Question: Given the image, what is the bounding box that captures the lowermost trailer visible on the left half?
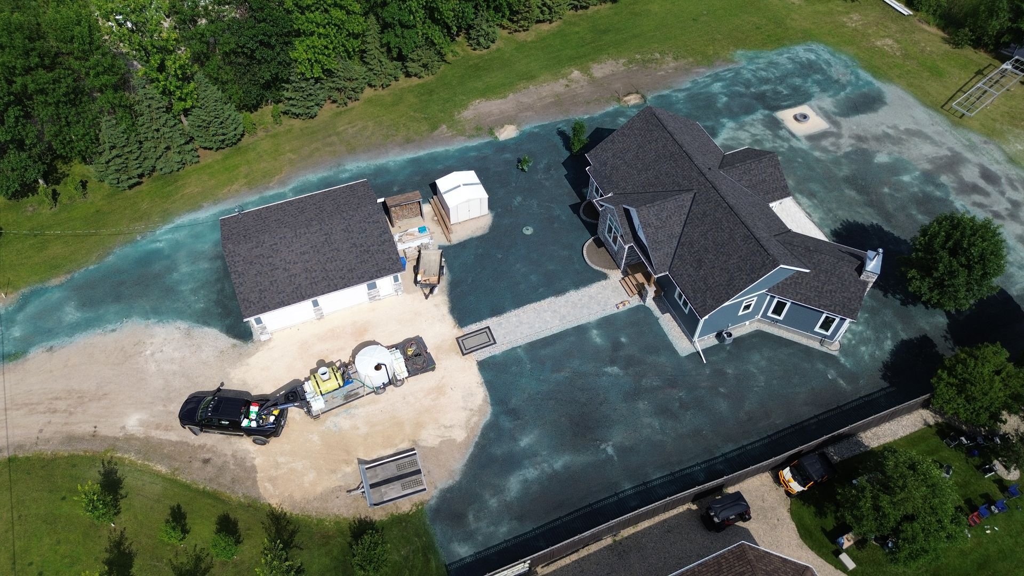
[348,448,430,508]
